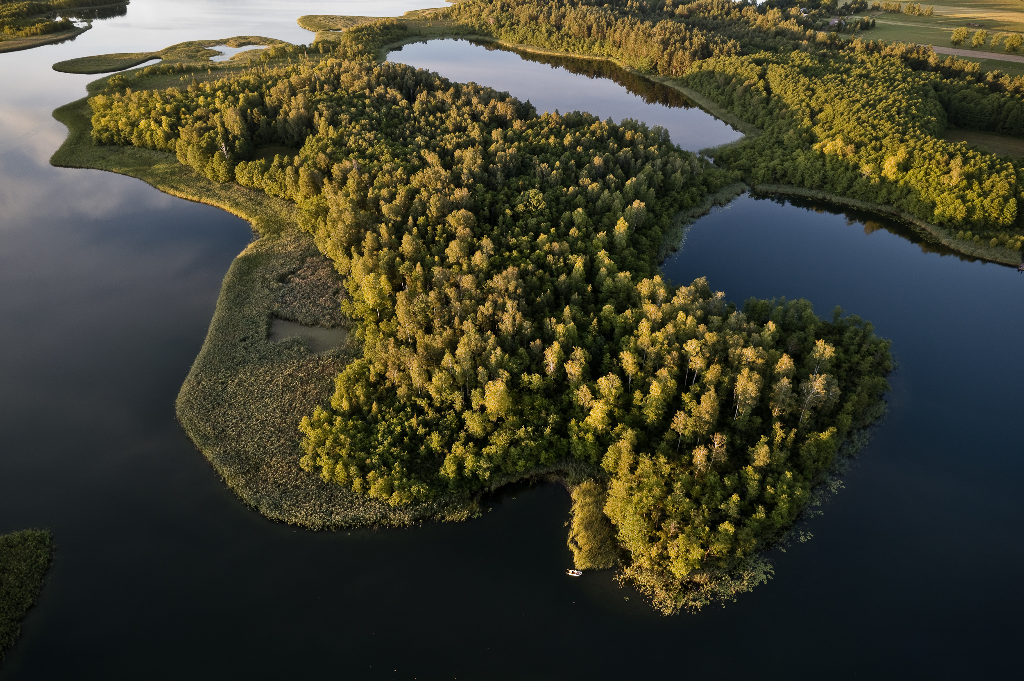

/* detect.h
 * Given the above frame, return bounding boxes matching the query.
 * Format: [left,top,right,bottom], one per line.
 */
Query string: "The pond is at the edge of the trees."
[267,317,353,361]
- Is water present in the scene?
Yes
